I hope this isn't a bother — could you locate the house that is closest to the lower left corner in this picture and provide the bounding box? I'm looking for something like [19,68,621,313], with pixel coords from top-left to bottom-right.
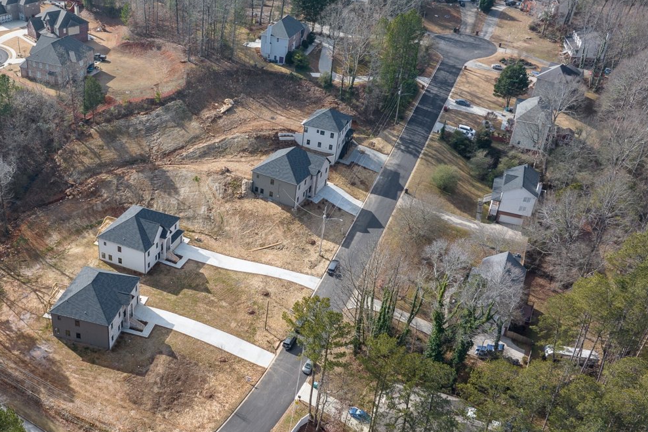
[49,267,155,349]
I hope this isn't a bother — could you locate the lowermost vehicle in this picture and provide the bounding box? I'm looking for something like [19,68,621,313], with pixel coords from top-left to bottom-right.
[348,406,371,422]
